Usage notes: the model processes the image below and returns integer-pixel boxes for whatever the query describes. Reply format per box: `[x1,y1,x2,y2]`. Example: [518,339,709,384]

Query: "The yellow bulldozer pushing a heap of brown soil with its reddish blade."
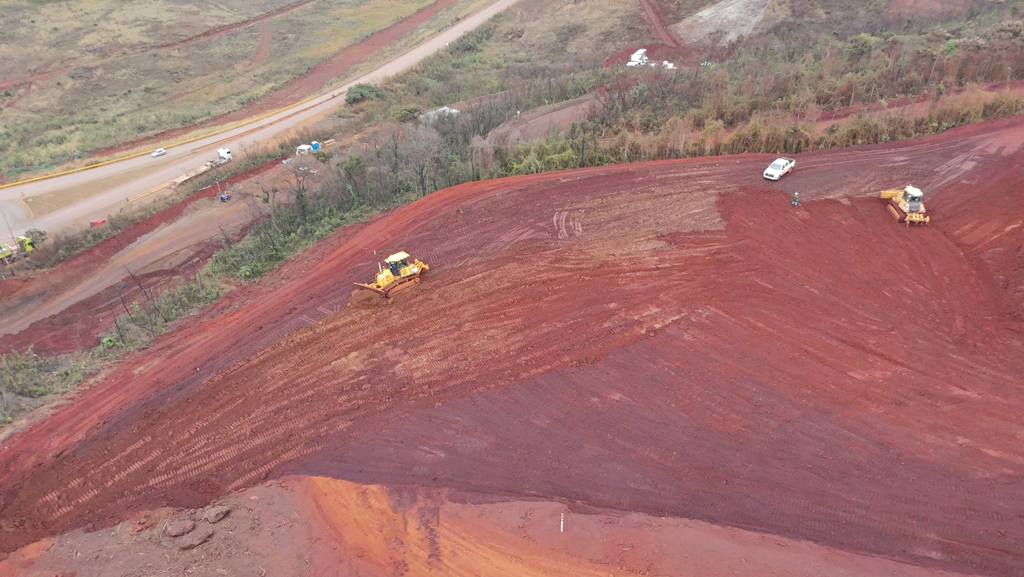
[361,252,433,310]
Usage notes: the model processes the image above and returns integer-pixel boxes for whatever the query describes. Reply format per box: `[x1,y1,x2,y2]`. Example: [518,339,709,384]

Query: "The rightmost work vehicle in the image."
[880,184,926,223]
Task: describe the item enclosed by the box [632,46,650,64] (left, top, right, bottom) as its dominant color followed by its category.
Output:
white vehicle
